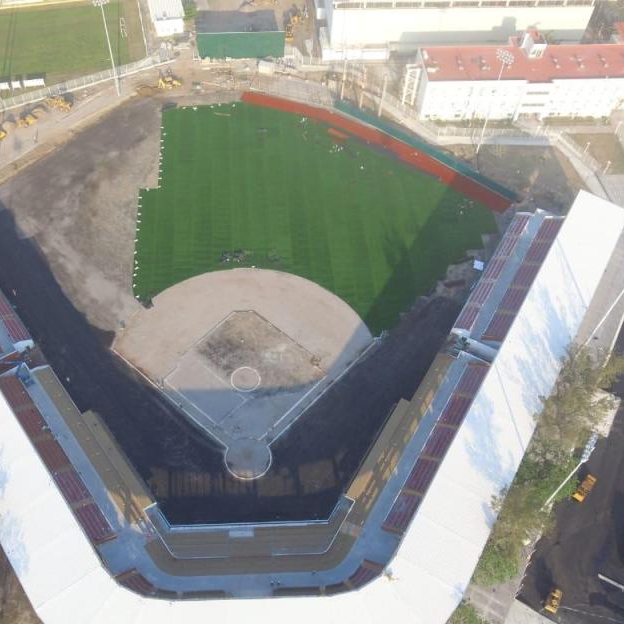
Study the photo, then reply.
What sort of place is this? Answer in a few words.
sports ground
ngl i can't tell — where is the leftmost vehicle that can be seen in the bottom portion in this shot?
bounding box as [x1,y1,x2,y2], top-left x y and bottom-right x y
[548,583,562,611]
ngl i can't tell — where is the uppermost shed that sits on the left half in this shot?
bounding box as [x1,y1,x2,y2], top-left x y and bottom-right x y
[150,0,186,38]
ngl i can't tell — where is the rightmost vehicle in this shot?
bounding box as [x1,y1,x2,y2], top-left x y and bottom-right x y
[576,473,596,500]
